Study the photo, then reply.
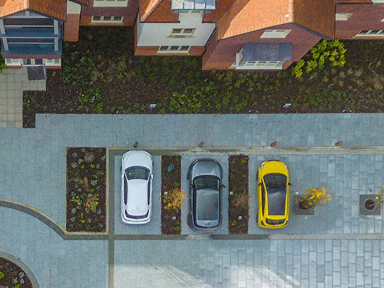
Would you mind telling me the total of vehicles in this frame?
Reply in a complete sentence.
Looking from above, you can make out 3 vehicles.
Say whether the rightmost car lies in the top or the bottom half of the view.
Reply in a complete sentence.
You can find the rightmost car in the bottom half.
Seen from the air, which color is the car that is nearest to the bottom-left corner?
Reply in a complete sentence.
The car that is nearest to the bottom-left corner looks white in the image.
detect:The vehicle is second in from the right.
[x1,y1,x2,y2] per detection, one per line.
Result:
[185,159,226,232]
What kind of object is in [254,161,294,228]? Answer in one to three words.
car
